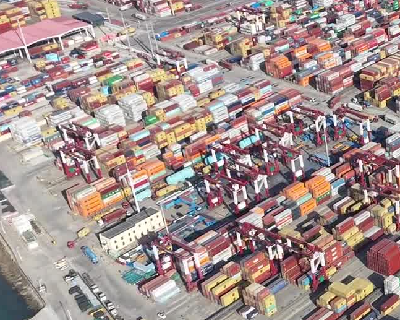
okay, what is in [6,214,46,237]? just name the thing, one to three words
building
